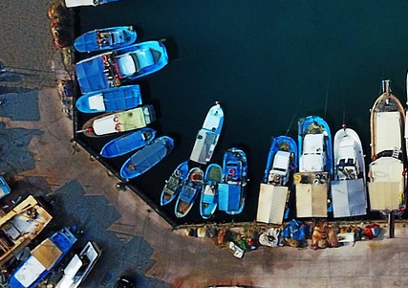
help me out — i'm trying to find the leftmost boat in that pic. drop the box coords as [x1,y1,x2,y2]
[0,177,18,201]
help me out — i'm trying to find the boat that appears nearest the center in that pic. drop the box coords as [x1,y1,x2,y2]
[190,104,223,165]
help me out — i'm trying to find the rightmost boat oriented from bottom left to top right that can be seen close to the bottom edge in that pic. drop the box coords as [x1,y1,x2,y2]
[57,237,105,288]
